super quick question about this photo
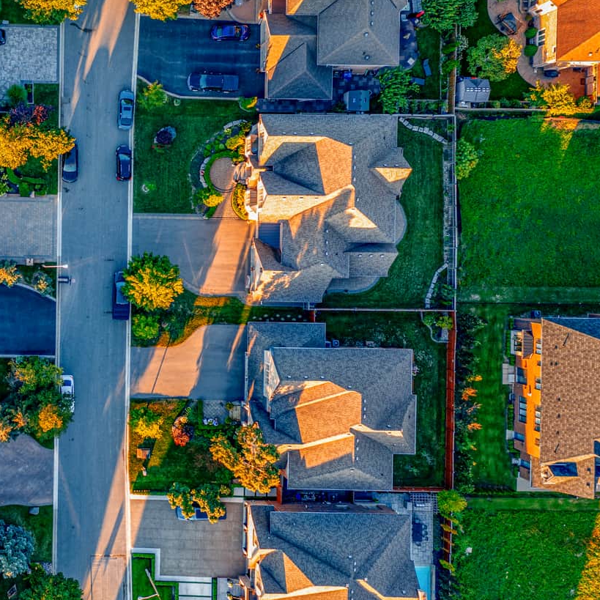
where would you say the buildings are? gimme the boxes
[243,499,429,600]
[259,0,409,102]
[341,89,372,112]
[508,318,600,500]
[451,79,495,102]
[519,0,600,109]
[246,113,412,303]
[244,322,417,490]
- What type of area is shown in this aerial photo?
residential area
